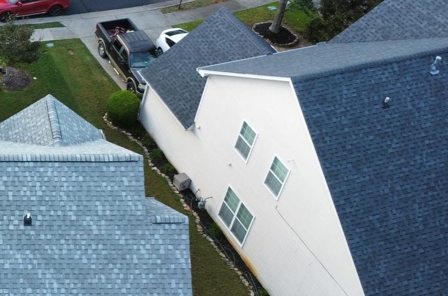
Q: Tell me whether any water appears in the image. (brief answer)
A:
No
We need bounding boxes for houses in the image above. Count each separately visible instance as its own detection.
[140,0,448,296]
[0,90,192,296]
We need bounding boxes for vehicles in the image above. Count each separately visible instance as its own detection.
[0,0,74,23]
[162,24,197,52]
[94,28,160,100]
